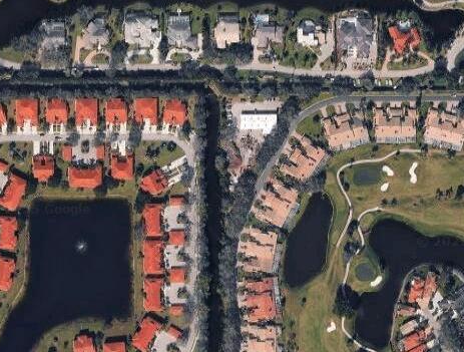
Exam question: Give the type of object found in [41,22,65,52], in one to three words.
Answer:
house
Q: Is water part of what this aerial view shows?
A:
Yes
